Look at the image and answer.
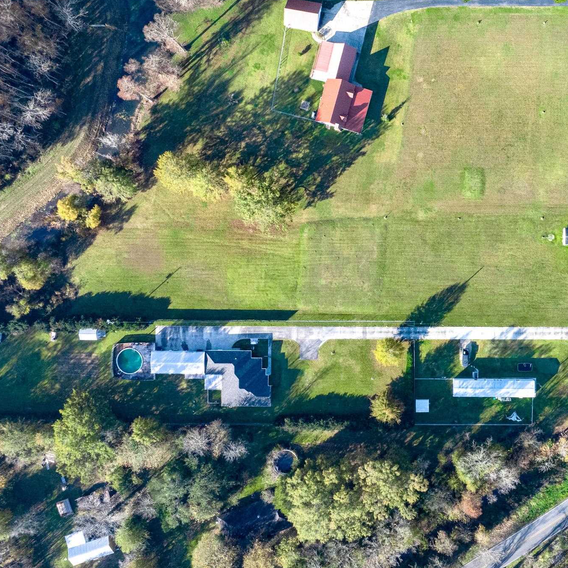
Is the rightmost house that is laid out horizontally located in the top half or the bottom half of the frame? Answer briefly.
bottom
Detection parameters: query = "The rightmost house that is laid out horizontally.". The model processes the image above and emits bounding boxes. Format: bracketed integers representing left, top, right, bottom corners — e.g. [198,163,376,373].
[453,372,536,401]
